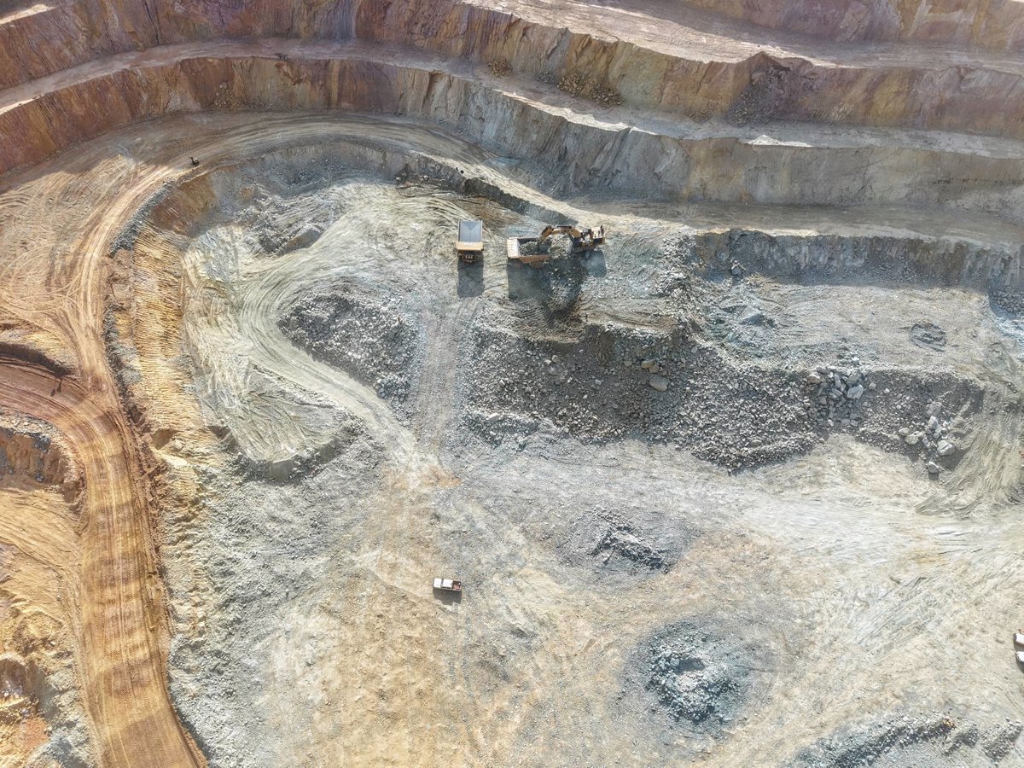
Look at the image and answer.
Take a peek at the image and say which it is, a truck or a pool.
truck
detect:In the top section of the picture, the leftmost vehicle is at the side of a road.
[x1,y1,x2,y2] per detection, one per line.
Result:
[454,217,484,264]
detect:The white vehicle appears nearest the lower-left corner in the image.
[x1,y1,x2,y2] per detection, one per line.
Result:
[433,579,462,592]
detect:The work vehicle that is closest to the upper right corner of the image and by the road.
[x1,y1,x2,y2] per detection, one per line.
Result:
[542,227,612,260]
